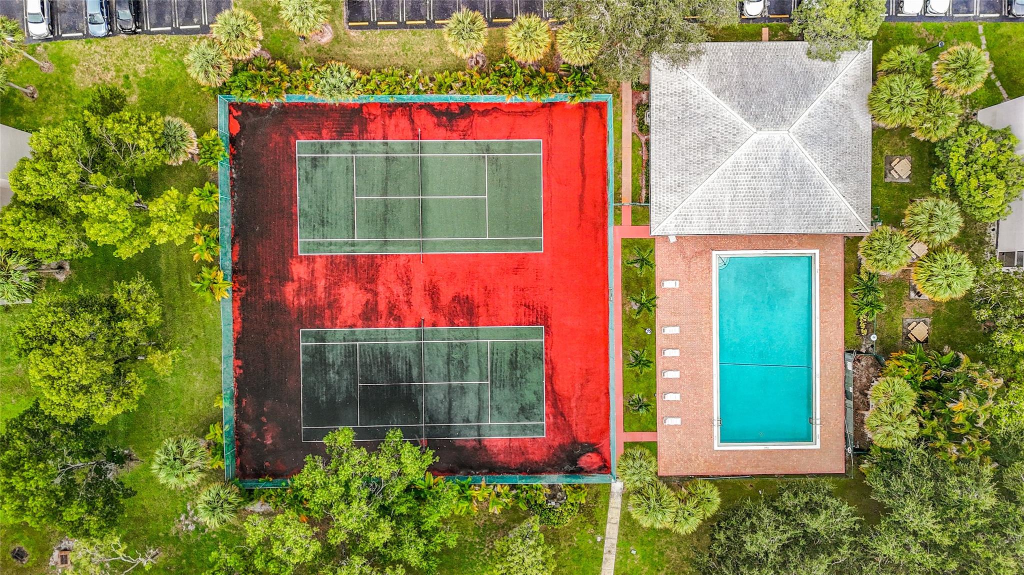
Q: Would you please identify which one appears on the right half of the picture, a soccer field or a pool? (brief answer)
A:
pool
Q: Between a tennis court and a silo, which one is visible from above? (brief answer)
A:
tennis court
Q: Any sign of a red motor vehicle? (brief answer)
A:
No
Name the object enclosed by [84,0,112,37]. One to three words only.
car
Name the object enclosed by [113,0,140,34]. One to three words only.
car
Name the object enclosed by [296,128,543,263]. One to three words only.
tennis court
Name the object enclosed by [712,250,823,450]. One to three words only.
swimming pool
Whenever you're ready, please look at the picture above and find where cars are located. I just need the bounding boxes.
[113,0,140,34]
[84,0,112,37]
[742,0,764,17]
[900,0,923,14]
[23,0,52,38]
[1011,0,1024,17]
[927,0,950,14]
